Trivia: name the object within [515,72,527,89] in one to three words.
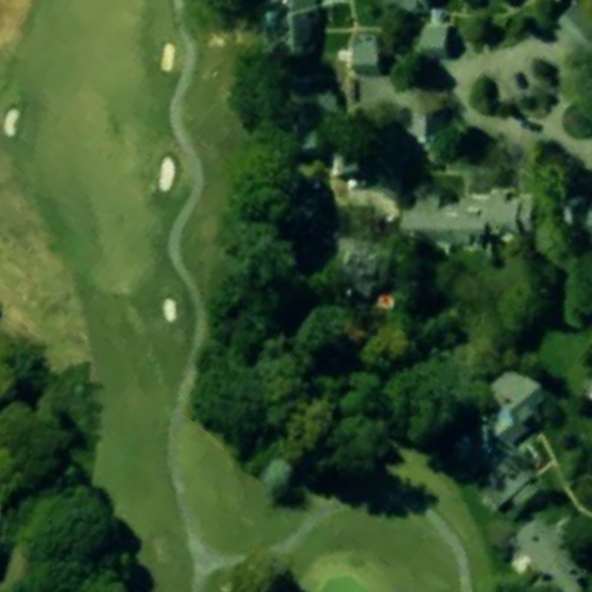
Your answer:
vehicle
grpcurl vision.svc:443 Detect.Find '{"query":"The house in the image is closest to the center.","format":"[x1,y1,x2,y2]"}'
[332,232,394,291]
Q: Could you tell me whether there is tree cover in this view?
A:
Yes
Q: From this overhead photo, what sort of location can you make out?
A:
golf course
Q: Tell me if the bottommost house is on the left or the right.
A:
right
